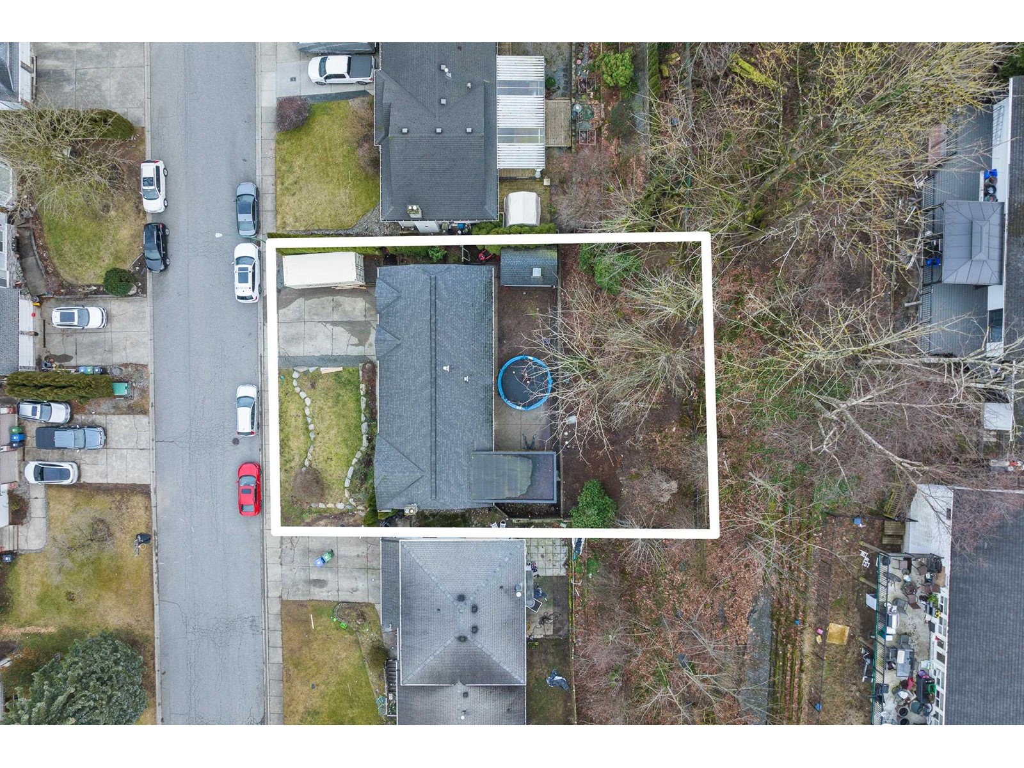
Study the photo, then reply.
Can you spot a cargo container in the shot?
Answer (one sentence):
Yes, I can see a cargo container in this picture.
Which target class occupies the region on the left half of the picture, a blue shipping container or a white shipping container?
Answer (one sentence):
You can see a white shipping container on the left half of the picture.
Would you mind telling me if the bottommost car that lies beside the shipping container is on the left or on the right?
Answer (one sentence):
You can find the bottommost car that lies beside the shipping container on the left side of the picture.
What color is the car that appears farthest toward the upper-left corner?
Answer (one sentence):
In this view, the car that appears farthest toward the upper-left corner is white.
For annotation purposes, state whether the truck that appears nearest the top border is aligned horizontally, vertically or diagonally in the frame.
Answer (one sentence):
Seen from above, the truck that appears nearest the top border lies horizontally.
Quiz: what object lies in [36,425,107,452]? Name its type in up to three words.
truck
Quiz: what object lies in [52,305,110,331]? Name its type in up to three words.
car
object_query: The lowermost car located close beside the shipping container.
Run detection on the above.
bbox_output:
[232,245,262,303]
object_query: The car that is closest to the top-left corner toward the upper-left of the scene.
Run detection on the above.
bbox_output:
[138,161,169,214]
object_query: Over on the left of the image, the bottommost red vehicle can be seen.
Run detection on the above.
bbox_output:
[236,463,264,515]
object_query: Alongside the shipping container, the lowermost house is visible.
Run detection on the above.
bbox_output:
[374,265,494,512]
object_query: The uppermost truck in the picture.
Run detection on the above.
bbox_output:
[309,53,376,86]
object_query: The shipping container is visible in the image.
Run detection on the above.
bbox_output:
[283,252,363,289]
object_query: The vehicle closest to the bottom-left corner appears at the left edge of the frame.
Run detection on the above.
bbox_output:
[27,460,83,486]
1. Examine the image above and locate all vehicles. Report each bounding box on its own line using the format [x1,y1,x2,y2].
[309,53,376,86]
[141,223,172,274]
[232,245,262,303]
[138,161,169,214]
[52,305,110,331]
[233,183,262,239]
[236,463,264,515]
[233,385,261,436]
[19,401,75,426]
[27,460,83,486]
[36,425,107,452]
